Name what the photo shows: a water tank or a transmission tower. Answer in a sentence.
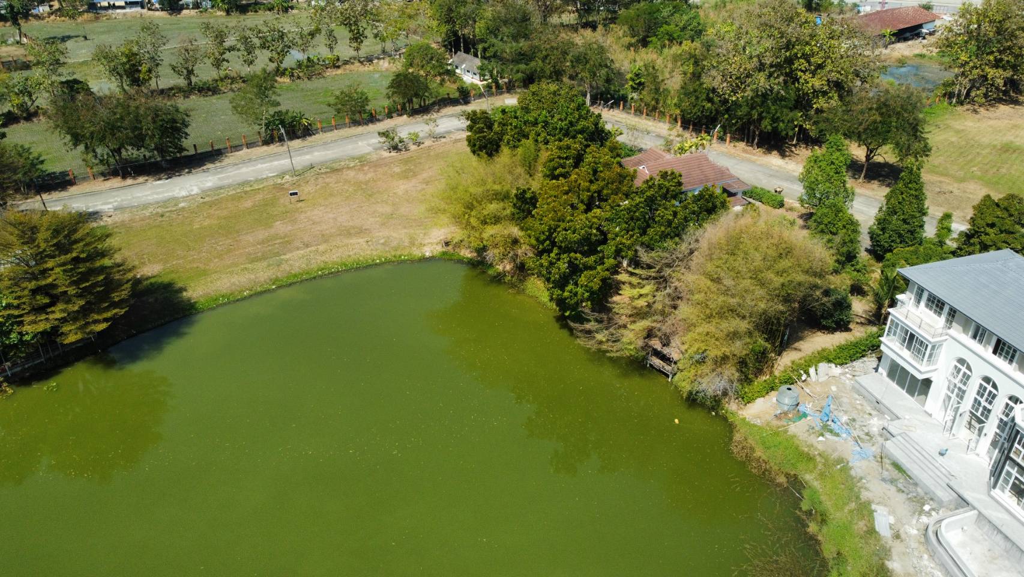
Of the two, only a water tank appears.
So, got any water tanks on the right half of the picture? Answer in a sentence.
Yes, looking on the right half of the picture, one can make out a water tank.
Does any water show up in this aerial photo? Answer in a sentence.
Yes, there's water in this view.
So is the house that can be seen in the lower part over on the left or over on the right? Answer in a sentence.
It is on the right.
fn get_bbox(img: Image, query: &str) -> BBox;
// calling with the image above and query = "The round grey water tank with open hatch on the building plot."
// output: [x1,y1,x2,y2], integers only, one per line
[770,390,802,427]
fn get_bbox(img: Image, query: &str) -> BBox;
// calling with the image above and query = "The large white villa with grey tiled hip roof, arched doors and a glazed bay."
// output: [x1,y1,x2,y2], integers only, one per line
[876,248,1024,516]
